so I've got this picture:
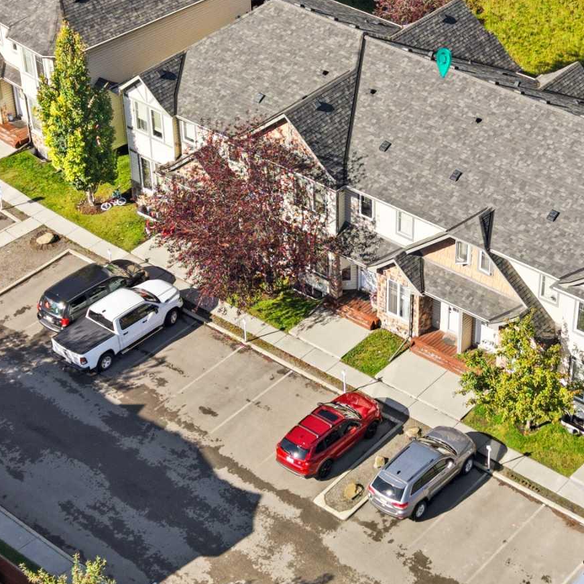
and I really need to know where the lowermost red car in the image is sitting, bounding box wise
[272,389,385,479]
